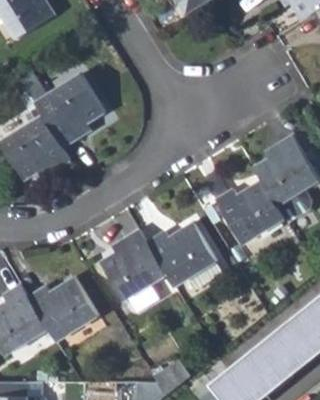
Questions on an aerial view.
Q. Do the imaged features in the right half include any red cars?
Yes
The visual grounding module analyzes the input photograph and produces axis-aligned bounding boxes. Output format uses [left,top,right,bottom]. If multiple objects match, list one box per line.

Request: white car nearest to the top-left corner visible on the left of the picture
[76,144,93,168]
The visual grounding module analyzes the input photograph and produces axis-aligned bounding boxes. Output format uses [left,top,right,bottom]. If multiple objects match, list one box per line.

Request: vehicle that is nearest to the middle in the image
[154,172,174,188]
